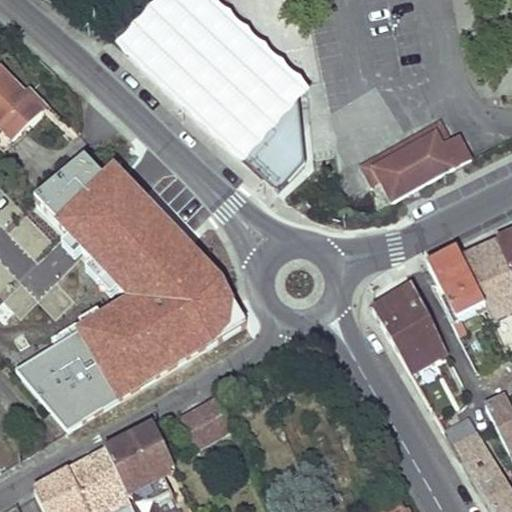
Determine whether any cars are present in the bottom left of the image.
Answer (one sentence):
No, no car can be made out in the bottom left of the image.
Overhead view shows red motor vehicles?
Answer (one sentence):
No, there appears to be no red motor vehicle in this shot.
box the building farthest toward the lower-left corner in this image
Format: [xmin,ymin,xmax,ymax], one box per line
[34,464,94,512]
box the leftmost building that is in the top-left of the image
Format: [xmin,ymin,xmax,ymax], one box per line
[0,62,47,150]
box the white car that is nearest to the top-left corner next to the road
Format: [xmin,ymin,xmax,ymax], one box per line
[122,72,140,90]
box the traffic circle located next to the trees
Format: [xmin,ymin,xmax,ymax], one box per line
[217,190,404,352]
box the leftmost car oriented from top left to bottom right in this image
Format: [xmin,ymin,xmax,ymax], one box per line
[100,53,119,72]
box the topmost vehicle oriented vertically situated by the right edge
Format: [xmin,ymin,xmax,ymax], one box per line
[474,408,487,430]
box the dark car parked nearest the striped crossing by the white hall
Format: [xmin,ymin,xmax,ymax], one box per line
[222,168,241,186]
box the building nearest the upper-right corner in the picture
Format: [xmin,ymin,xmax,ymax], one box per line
[361,121,471,206]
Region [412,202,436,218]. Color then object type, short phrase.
white car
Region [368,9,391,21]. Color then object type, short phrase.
white vehicle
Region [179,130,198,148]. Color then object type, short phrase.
white car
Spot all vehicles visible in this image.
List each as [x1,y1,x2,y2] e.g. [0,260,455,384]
[372,25,394,36]
[392,3,414,16]
[412,202,436,218]
[457,483,472,504]
[122,72,140,90]
[222,168,241,186]
[100,53,119,72]
[139,90,159,109]
[368,9,391,21]
[179,130,198,148]
[467,504,478,512]
[181,200,200,219]
[474,408,487,430]
[400,55,422,65]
